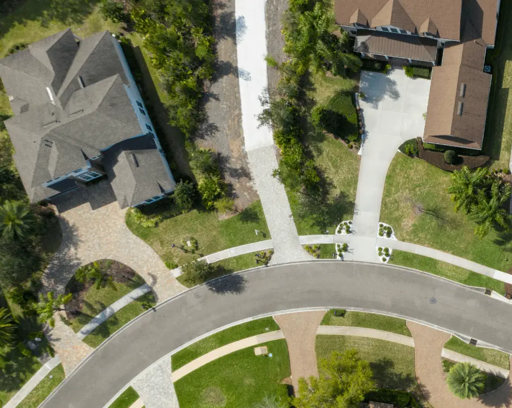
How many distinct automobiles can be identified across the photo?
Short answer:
0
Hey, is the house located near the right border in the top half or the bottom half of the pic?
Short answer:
top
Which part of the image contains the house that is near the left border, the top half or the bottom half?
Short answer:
top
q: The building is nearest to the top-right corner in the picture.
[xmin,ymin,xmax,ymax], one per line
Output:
[335,0,500,152]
